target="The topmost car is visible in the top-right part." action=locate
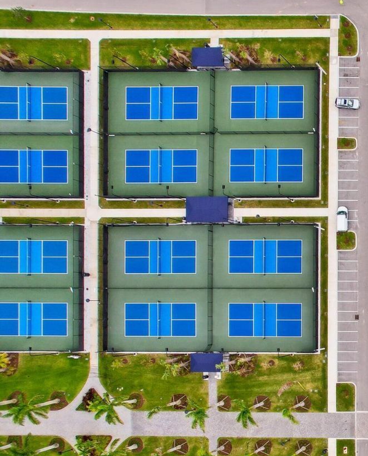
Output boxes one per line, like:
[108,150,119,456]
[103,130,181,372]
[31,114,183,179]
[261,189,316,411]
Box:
[336,96,360,109]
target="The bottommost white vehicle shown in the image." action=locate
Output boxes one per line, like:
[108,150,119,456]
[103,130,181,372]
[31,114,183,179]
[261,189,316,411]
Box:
[335,207,348,232]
